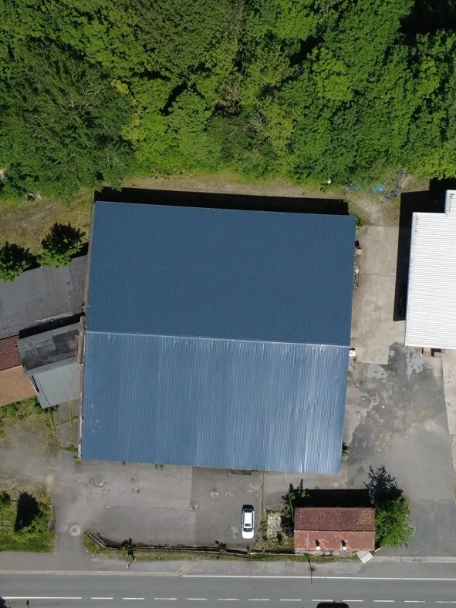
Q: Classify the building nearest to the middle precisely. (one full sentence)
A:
The building nearest to the middle in the image is a warehouse.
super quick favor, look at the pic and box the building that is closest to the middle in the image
[80,202,354,476]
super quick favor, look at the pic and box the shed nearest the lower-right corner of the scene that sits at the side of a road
[295,503,375,557]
